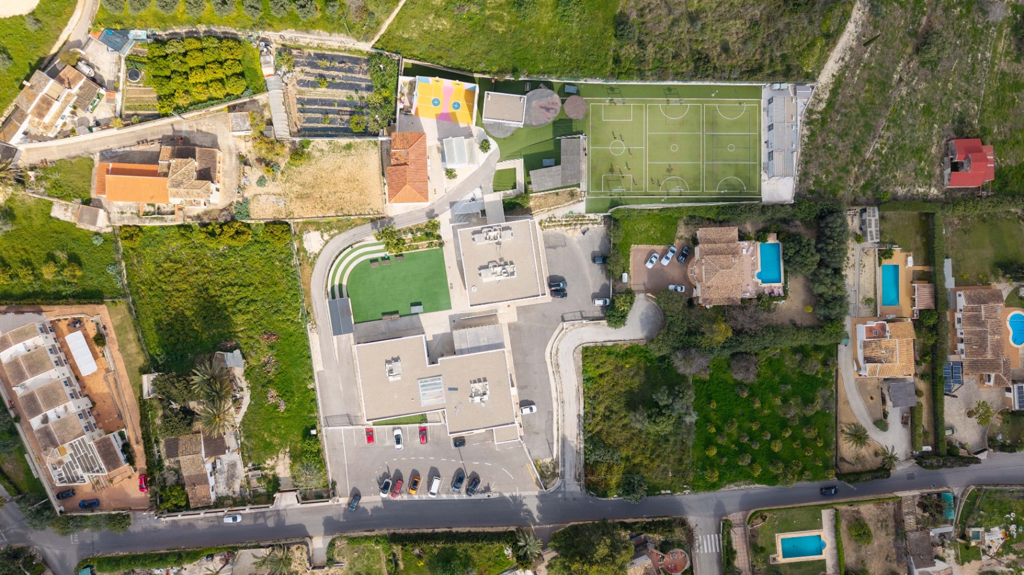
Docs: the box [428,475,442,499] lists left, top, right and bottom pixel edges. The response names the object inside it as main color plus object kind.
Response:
white vehicle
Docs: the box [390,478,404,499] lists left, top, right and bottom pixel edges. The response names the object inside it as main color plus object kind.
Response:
red car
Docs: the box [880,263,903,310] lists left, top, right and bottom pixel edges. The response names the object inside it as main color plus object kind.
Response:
blue swimming pool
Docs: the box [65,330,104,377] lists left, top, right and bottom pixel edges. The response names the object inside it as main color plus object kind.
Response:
white tent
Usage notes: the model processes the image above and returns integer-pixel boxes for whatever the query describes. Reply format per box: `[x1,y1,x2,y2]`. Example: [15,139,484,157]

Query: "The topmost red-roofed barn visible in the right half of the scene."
[938,138,995,194]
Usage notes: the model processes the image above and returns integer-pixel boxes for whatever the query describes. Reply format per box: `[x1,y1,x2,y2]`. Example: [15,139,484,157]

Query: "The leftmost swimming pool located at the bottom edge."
[770,530,828,564]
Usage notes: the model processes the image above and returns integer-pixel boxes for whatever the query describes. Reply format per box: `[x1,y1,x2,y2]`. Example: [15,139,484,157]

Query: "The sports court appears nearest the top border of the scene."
[412,75,479,128]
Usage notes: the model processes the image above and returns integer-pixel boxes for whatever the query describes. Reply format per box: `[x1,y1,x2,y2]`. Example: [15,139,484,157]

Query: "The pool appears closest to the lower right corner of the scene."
[969,528,984,546]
